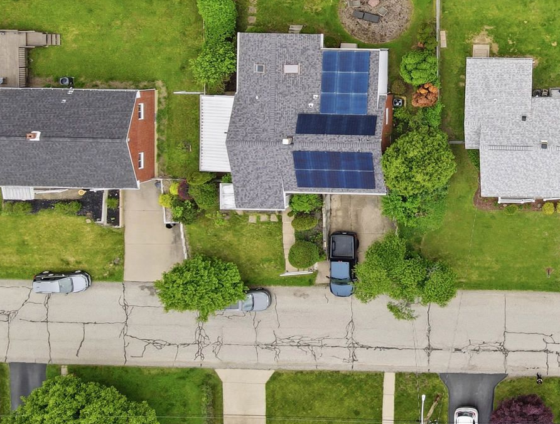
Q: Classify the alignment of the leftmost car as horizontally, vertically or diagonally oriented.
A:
horizontally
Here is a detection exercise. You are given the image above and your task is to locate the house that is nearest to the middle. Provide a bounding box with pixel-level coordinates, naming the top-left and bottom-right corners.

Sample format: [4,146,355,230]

[222,31,391,210]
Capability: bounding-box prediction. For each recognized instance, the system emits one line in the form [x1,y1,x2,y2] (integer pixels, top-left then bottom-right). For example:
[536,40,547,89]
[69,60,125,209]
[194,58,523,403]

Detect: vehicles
[218,287,270,316]
[453,405,479,424]
[322,229,355,295]
[28,269,93,298]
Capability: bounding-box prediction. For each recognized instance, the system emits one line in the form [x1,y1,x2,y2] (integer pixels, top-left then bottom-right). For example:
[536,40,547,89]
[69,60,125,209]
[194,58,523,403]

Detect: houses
[463,57,560,204]
[0,87,161,193]
[222,31,391,210]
